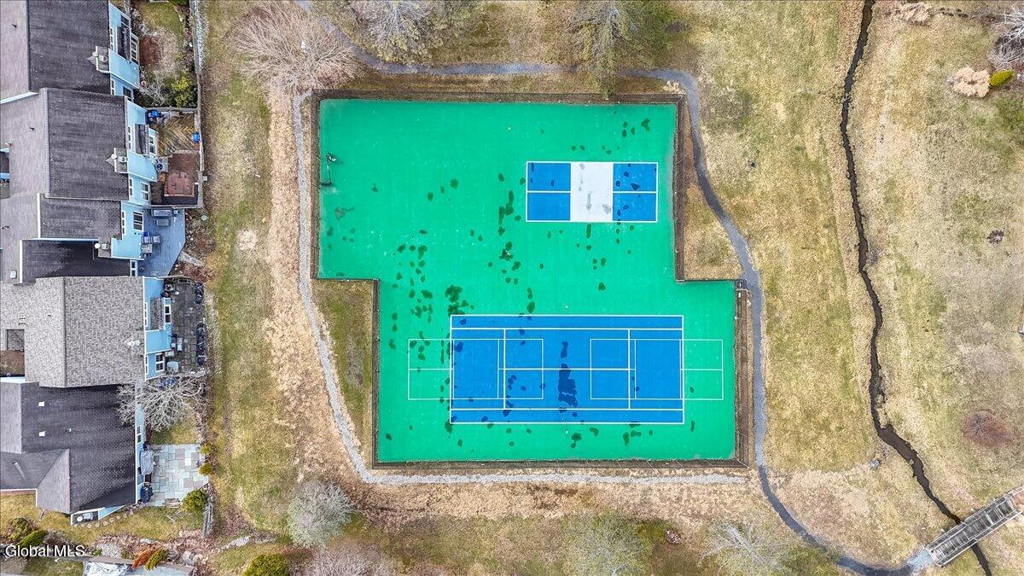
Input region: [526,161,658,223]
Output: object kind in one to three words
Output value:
sports court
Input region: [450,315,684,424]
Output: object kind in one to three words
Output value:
tennis court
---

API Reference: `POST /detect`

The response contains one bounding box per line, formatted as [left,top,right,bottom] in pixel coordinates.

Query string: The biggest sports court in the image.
[319,99,736,462]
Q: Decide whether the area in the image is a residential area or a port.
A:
residential area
